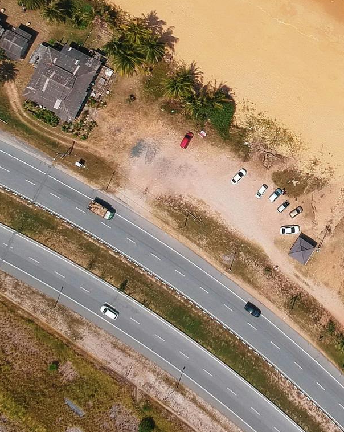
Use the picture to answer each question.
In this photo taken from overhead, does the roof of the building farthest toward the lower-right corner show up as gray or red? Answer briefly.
gray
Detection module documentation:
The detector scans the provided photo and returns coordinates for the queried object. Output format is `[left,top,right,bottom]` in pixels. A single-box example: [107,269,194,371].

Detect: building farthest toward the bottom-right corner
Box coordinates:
[288,234,318,264]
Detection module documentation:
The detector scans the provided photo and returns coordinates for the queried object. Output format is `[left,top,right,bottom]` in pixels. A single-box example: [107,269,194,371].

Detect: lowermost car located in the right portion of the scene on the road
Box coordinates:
[243,303,261,318]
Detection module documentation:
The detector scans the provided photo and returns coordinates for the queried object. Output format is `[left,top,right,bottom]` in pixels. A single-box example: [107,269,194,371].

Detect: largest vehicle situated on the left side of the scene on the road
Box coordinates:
[83,197,115,220]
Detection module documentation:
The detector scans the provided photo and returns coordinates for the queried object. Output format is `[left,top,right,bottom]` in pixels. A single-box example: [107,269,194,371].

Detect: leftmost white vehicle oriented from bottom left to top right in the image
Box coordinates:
[230,166,247,186]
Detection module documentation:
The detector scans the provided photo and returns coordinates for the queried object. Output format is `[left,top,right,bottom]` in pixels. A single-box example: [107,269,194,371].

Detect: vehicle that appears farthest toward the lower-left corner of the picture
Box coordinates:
[98,304,118,320]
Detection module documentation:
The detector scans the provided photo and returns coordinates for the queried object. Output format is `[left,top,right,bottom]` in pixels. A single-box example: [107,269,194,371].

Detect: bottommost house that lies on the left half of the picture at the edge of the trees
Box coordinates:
[23,44,108,122]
